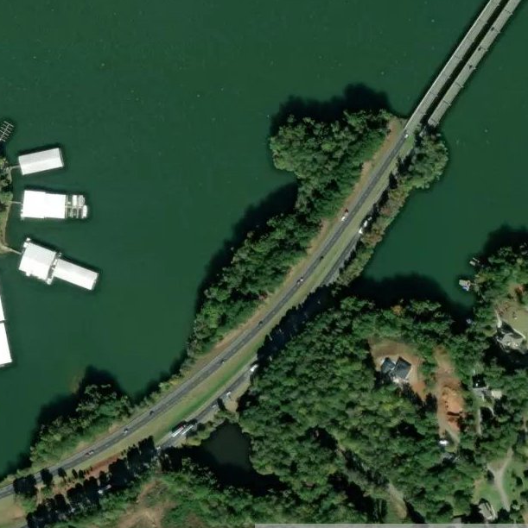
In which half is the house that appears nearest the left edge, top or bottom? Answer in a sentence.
It is in the bottom half that the house that appears nearest the left edge appears.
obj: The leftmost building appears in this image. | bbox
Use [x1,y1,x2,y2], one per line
[379,359,412,380]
